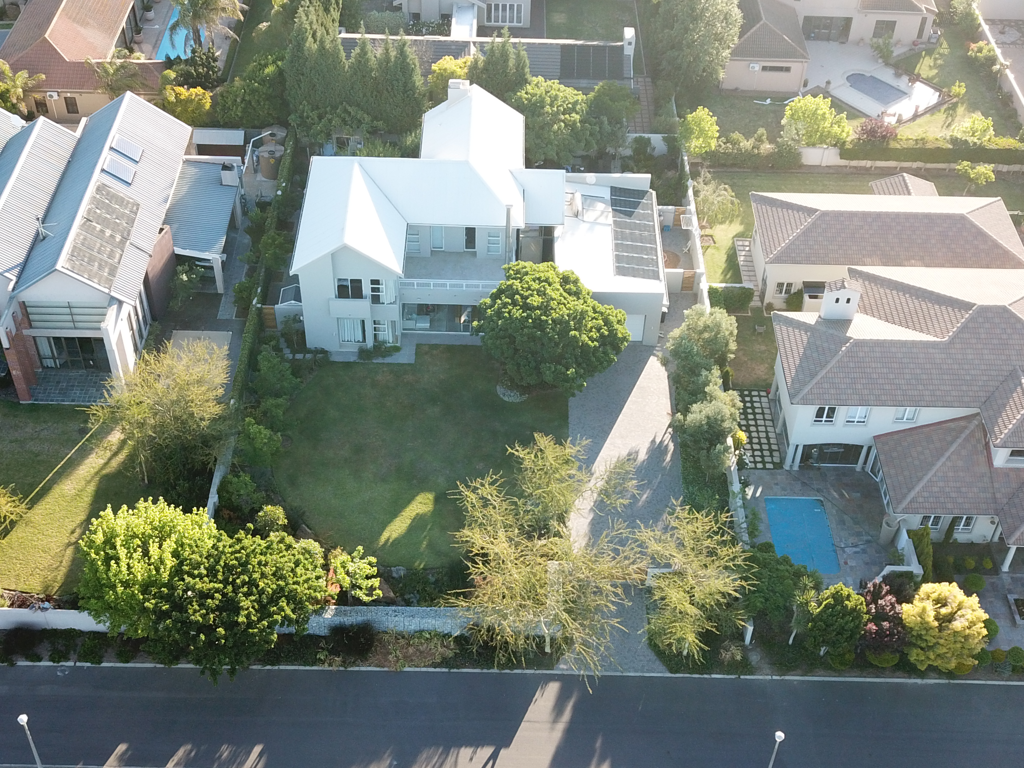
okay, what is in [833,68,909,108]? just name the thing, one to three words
swimming pool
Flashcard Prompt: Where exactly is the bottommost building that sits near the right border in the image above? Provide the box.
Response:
[768,264,1024,575]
